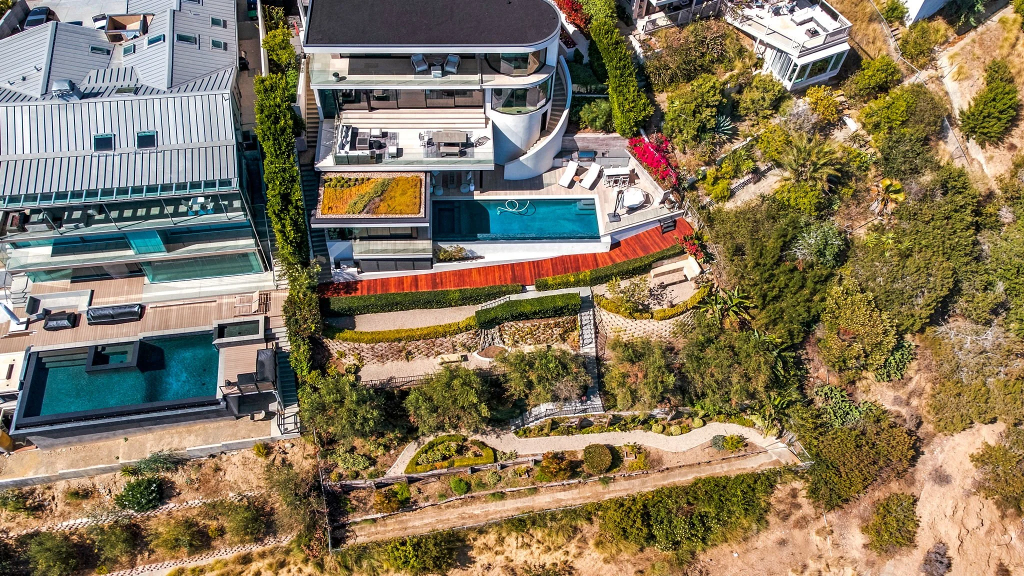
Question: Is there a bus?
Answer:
No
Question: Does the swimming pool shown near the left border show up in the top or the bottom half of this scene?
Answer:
bottom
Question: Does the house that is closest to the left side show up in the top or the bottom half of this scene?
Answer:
top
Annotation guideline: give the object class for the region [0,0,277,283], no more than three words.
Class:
house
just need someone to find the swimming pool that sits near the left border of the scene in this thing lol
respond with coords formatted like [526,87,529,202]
[9,327,232,452]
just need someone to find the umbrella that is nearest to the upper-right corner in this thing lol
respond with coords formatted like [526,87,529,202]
[607,186,626,223]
